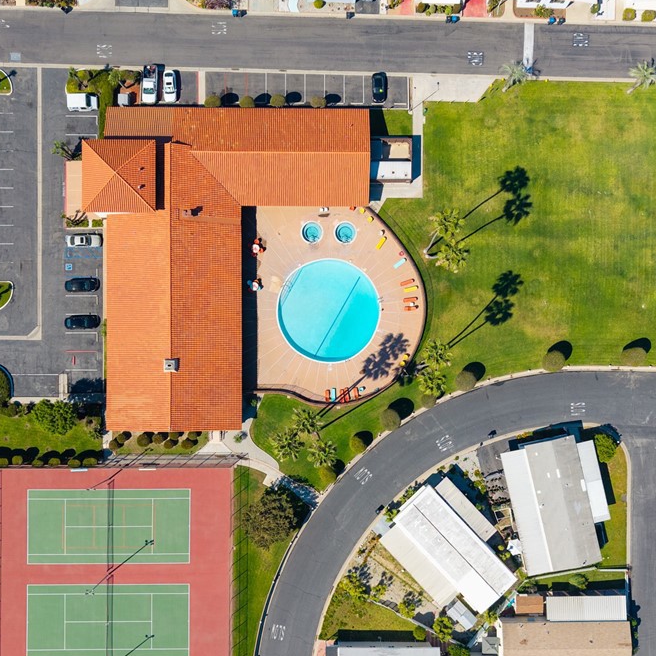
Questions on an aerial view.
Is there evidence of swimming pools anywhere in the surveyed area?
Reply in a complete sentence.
Yes, the picture does show a swimming pool.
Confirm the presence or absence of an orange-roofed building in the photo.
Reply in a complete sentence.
Yes, you can see an orange-roofed building in this photo.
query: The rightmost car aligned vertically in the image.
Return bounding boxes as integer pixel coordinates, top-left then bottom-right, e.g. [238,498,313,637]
[373,70,388,103]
